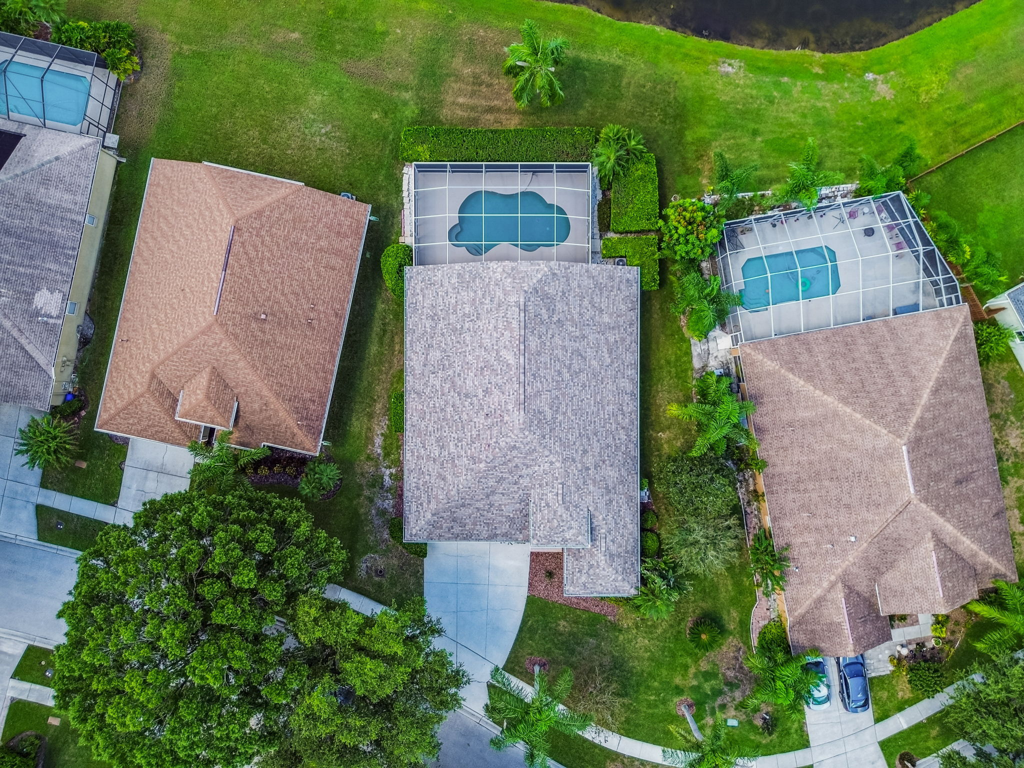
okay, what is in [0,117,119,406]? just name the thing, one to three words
house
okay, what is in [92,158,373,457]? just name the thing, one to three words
house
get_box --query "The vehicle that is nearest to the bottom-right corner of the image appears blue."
[831,653,870,713]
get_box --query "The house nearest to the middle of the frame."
[402,259,642,598]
